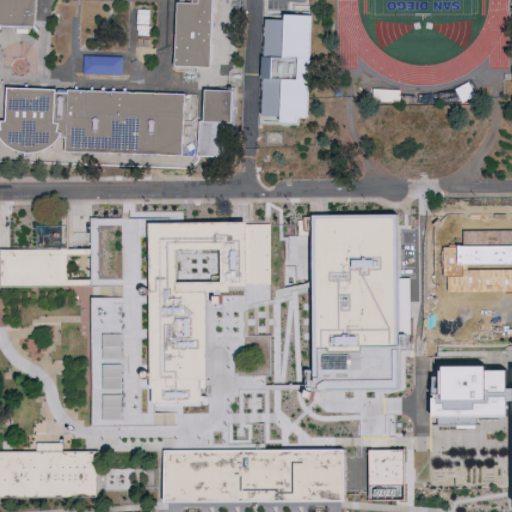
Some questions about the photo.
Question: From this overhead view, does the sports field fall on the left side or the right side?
right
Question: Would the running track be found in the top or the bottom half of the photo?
top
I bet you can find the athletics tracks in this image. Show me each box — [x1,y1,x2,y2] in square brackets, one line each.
[338,0,510,84]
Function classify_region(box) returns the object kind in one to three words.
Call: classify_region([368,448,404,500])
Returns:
building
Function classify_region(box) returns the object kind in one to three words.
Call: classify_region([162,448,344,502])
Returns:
building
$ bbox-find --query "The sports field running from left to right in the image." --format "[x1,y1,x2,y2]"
[358,0,490,65]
